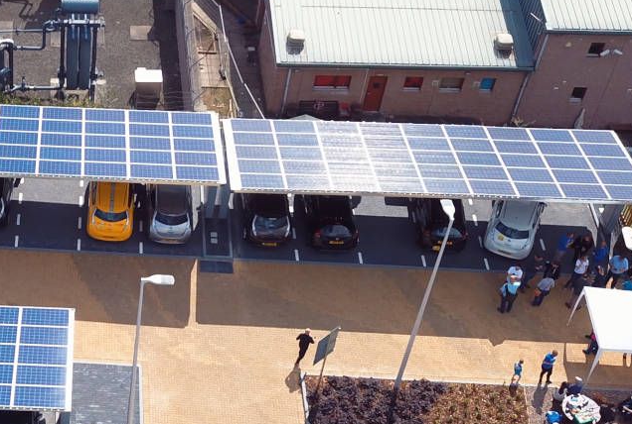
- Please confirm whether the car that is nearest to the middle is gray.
No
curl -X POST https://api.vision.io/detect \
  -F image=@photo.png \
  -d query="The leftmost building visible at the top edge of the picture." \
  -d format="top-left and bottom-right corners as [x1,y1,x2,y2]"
[246,0,533,121]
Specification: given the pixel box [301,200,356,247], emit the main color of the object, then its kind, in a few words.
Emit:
black car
